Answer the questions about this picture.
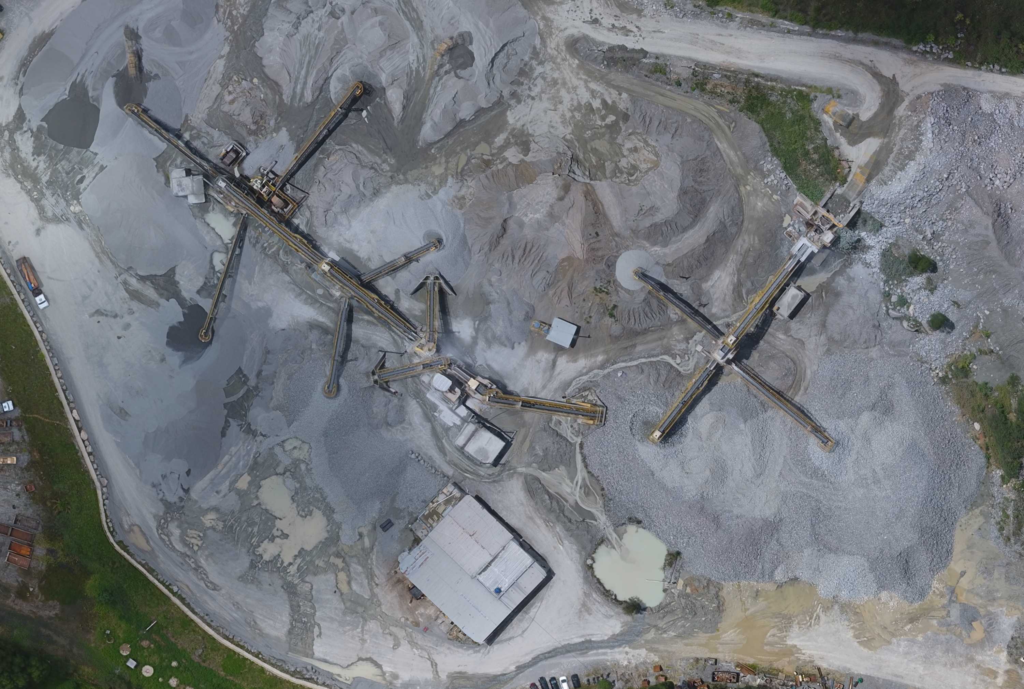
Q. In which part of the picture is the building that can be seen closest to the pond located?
bottom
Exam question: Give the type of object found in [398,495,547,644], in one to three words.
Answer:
building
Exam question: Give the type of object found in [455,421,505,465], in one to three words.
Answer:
building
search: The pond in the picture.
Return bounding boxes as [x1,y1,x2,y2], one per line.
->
[593,524,667,609]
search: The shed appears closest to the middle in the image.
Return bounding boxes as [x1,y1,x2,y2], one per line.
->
[546,318,577,348]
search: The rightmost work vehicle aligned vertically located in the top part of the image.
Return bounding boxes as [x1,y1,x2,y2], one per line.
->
[126,41,138,72]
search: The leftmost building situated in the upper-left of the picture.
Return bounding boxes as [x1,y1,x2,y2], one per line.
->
[171,169,205,203]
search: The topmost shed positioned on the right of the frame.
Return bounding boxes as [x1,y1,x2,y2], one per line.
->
[772,284,804,320]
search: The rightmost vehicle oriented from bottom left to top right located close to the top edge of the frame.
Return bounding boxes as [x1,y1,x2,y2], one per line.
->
[433,33,462,55]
